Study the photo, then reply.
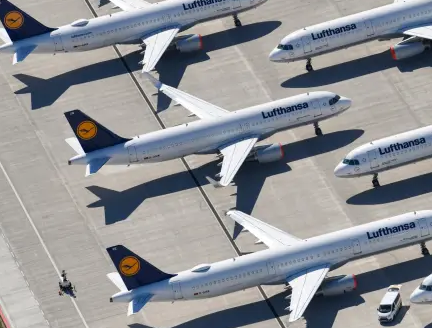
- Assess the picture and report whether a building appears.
No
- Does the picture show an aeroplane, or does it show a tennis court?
aeroplane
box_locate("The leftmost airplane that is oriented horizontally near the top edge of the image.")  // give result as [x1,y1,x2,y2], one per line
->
[0,0,264,75]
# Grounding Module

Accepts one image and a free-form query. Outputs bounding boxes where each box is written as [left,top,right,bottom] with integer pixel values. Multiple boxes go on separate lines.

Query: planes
[65,71,351,188]
[106,210,432,327]
[268,0,432,72]
[0,0,264,75]
[332,125,432,187]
